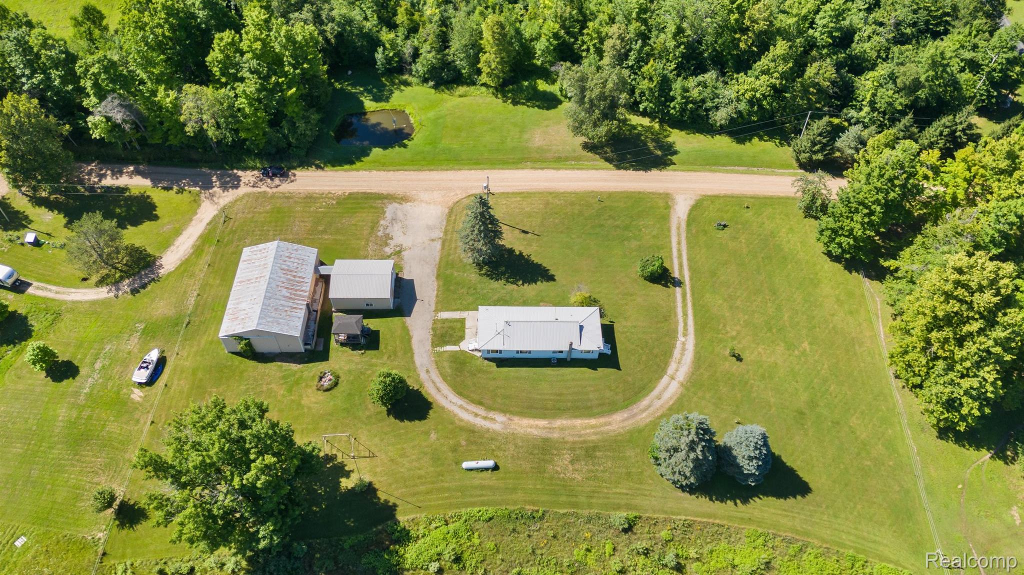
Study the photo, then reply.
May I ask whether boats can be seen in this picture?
Yes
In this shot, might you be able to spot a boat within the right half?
No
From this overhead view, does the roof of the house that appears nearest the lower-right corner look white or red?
white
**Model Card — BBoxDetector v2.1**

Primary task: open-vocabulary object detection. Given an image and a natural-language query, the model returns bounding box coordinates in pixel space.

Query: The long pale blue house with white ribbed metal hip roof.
[472,306,611,362]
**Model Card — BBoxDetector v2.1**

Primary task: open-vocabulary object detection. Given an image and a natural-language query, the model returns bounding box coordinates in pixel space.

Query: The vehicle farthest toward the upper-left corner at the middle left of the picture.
[0,261,20,285]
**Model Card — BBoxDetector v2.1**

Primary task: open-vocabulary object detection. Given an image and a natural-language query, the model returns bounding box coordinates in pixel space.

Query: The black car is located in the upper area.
[260,165,285,178]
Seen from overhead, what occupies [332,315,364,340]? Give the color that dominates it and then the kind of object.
gray gazebo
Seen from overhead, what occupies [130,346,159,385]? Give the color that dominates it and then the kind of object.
white boat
